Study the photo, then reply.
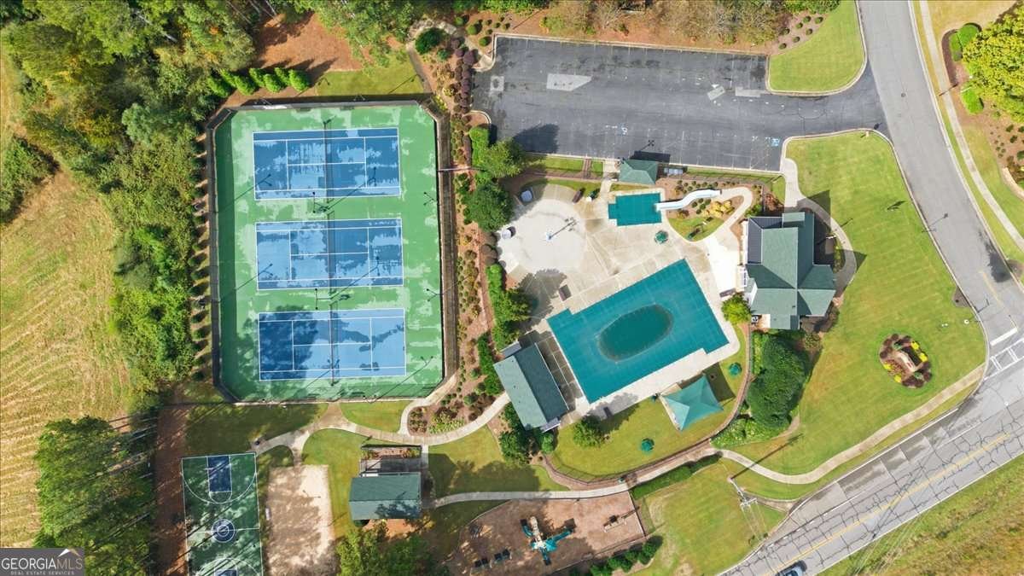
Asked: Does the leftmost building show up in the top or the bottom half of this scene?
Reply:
bottom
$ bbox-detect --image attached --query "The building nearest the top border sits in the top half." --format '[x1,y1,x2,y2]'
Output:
[617,160,658,185]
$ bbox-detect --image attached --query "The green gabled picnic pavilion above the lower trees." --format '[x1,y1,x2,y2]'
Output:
[347,473,421,521]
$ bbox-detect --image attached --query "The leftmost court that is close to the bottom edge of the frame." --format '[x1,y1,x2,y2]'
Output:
[181,452,265,576]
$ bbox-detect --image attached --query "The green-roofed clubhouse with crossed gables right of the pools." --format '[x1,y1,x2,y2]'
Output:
[736,212,838,330]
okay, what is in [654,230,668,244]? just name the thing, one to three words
umbrella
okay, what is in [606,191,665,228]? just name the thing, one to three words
swimming pool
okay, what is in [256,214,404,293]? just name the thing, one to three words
tennis court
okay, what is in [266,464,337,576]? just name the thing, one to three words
sports court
